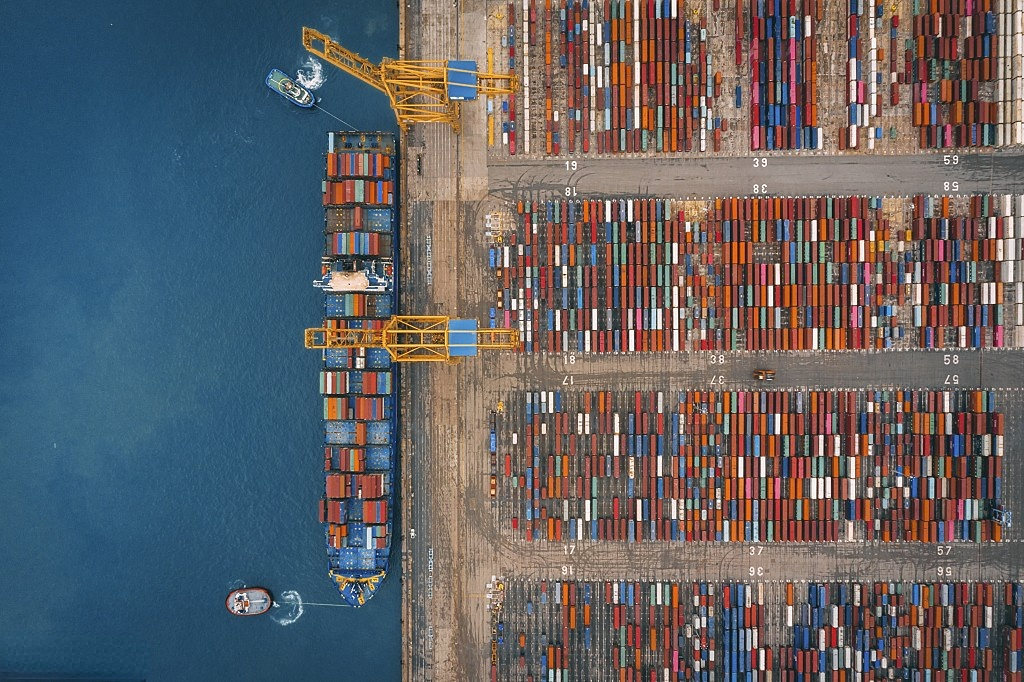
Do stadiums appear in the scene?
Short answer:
No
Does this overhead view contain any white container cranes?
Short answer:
No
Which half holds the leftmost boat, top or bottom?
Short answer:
bottom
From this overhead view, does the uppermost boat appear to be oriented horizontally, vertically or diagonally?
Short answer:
diagonally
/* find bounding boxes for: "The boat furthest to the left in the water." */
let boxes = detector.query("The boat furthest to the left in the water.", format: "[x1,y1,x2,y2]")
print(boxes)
[225,588,272,617]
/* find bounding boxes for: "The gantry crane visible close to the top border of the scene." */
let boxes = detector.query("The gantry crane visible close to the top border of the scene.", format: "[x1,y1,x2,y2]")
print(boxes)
[304,28,517,141]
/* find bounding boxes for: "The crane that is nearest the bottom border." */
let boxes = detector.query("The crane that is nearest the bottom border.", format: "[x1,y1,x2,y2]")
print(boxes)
[305,309,517,369]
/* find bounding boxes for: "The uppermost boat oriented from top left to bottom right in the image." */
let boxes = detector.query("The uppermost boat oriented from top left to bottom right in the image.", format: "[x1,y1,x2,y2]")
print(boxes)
[264,67,315,105]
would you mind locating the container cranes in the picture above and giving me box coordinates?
[304,28,517,141]
[305,309,517,369]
